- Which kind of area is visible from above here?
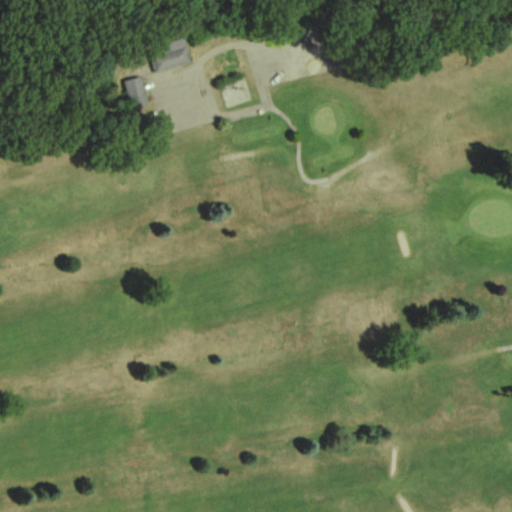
golf course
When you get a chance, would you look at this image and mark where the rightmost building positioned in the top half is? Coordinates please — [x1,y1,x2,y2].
[152,38,192,72]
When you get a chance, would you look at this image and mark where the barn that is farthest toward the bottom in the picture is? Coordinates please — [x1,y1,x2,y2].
[126,78,148,108]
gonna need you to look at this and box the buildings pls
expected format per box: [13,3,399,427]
[152,38,192,72]
[126,78,148,108]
